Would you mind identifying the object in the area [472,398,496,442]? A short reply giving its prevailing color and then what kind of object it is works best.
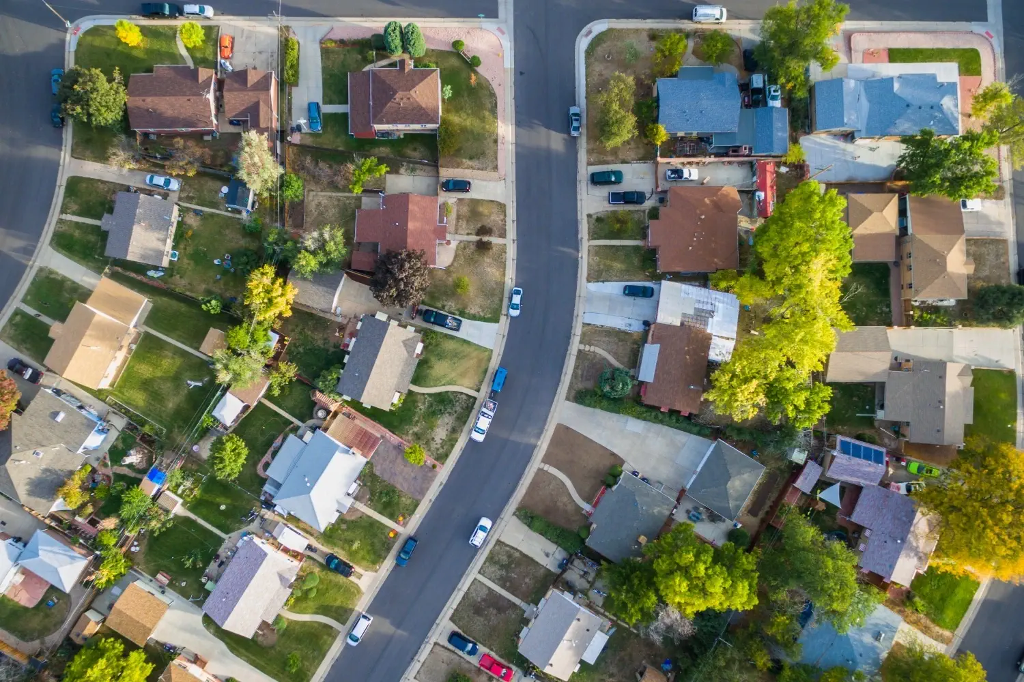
white truck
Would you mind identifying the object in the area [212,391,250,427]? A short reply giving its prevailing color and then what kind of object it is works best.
white tent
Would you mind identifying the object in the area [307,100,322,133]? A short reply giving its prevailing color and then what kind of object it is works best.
blue car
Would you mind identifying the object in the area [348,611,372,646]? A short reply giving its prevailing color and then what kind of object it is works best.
white vehicle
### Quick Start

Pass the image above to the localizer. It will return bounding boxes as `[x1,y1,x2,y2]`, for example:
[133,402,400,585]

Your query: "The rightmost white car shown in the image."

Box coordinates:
[963,197,982,211]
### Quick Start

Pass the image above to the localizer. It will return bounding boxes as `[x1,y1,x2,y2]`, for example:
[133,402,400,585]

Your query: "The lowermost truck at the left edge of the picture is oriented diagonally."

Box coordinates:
[5,357,45,386]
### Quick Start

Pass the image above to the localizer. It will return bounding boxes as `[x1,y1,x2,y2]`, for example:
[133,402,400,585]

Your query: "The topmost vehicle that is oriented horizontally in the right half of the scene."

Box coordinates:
[691,3,728,21]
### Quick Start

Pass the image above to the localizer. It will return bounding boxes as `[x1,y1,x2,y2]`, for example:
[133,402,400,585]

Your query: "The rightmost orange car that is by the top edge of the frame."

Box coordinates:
[219,34,234,61]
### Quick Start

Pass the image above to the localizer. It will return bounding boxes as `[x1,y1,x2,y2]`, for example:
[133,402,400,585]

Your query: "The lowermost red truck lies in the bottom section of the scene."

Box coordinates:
[478,655,514,680]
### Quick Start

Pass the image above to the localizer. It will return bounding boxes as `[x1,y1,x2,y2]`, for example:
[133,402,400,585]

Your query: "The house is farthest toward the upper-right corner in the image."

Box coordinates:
[811,71,958,138]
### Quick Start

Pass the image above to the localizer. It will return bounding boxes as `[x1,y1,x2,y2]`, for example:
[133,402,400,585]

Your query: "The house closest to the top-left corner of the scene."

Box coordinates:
[123,64,221,132]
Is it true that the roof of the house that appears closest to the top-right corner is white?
No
